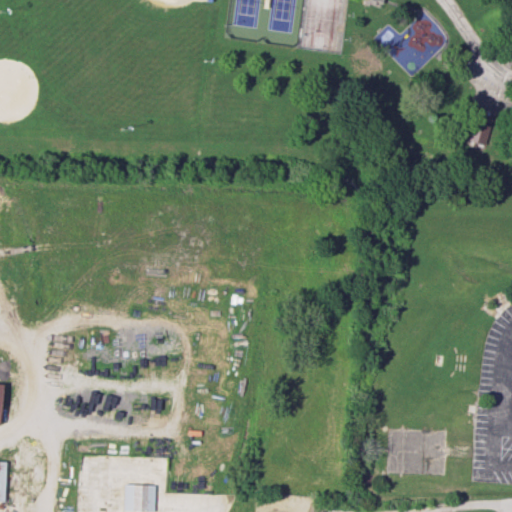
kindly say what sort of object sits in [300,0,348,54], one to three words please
sports court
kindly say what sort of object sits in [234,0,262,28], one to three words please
tennis court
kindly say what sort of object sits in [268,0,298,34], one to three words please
tennis court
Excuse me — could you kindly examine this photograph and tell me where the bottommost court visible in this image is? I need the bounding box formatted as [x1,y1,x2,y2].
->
[387,428,446,476]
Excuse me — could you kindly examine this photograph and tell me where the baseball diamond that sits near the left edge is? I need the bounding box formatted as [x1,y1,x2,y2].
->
[0,57,40,125]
